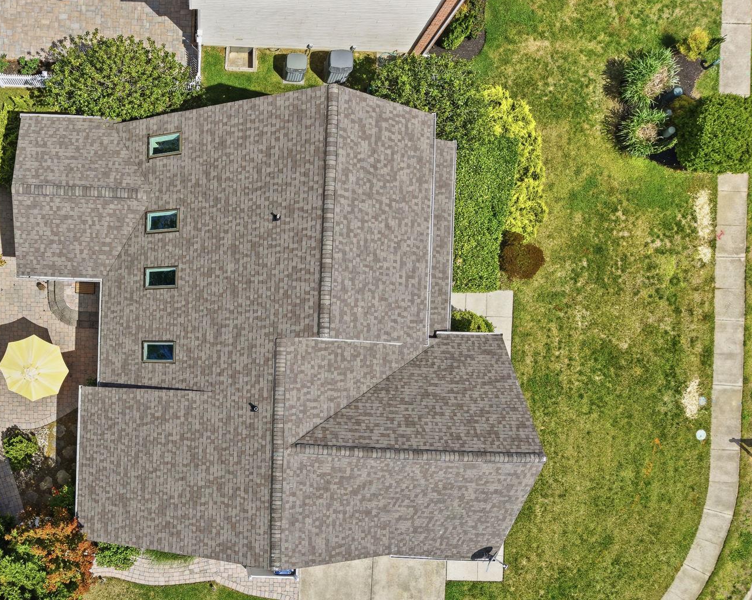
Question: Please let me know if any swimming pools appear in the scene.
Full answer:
No, I find no swimming pool anywhere in the image.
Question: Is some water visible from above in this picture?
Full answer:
No, water can't be seen anywhere here.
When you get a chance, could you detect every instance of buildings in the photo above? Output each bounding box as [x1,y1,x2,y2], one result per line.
[187,0,474,56]
[12,85,545,587]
